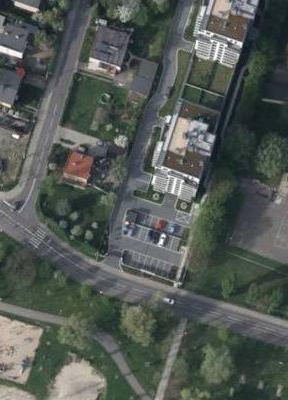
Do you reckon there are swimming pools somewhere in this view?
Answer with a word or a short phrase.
No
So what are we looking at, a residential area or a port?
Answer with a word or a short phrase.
residential area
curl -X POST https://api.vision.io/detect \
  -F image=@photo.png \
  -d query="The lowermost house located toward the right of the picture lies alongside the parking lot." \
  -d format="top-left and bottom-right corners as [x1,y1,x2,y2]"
[153,99,225,202]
